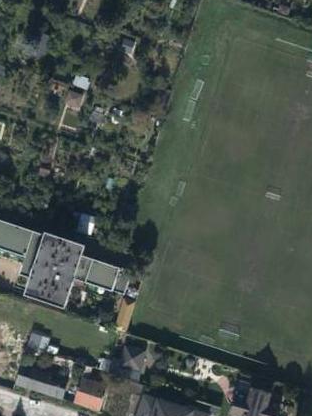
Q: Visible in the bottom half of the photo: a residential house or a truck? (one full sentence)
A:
There is a residential house in the bottom half of the photo.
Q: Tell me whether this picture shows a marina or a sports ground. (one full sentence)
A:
It's a sports ground.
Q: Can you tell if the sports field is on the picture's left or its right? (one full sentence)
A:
The sports field is on the right side of the image.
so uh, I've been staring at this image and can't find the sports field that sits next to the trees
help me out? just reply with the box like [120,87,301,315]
[134,0,312,388]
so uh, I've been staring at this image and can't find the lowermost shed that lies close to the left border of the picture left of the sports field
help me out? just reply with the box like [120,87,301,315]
[15,374,66,402]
